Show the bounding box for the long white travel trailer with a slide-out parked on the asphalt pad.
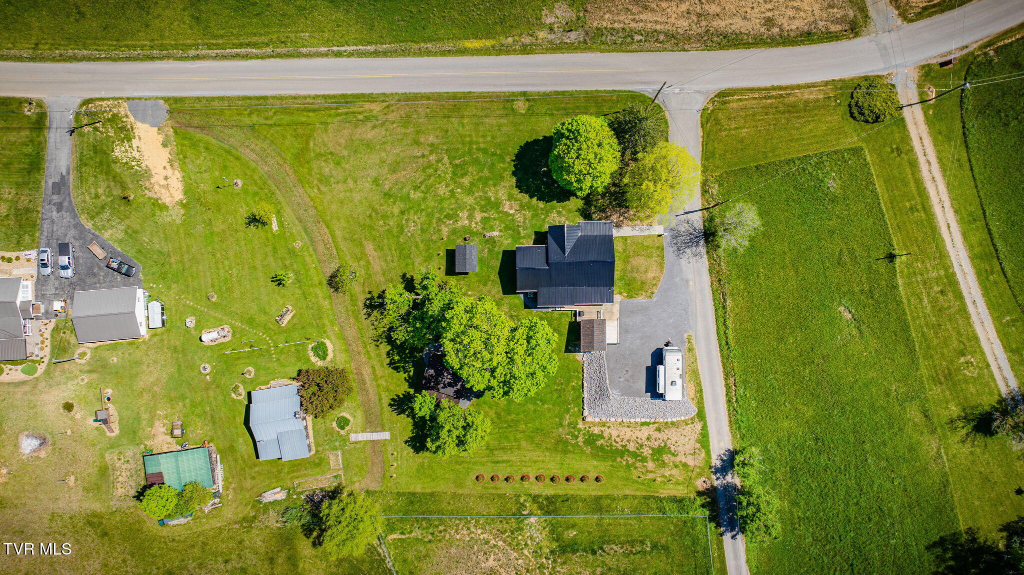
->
[657,339,682,400]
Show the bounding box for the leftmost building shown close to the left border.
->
[0,277,44,360]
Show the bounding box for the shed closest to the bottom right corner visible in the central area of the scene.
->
[581,319,607,352]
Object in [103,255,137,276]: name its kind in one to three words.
truck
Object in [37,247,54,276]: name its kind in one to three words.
car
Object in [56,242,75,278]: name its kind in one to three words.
vehicle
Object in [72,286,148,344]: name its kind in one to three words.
building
